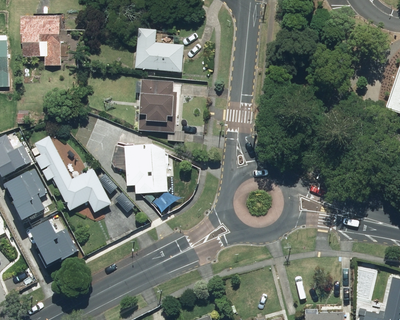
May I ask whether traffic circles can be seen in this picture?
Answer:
Yes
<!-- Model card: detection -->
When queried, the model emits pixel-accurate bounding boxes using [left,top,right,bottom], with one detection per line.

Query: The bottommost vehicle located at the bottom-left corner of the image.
[28,302,46,316]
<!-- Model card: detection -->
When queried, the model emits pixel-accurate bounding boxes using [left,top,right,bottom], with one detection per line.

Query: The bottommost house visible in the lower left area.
[27,222,78,266]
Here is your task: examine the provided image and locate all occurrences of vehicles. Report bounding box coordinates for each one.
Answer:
[344,220,362,228]
[296,276,306,300]
[188,44,202,58]
[183,33,199,45]
[343,288,351,304]
[258,294,268,310]
[334,282,342,298]
[246,142,257,158]
[184,126,198,134]
[28,302,46,316]
[104,263,119,274]
[13,272,29,284]
[310,288,320,304]
[21,276,36,288]
[342,270,350,286]
[308,185,322,196]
